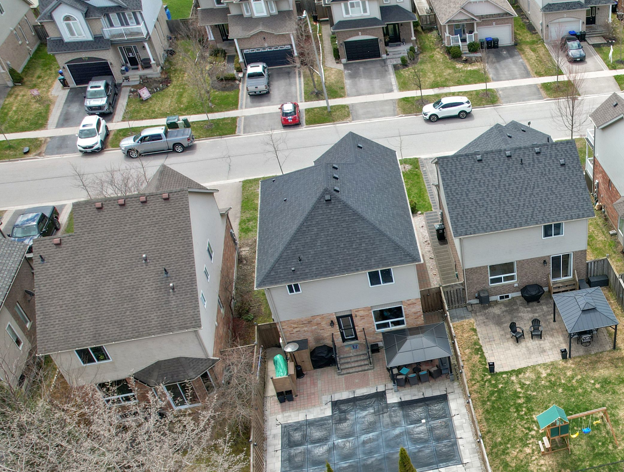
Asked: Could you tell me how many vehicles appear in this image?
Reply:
8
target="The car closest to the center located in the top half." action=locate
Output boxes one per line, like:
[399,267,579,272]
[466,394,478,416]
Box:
[276,98,302,123]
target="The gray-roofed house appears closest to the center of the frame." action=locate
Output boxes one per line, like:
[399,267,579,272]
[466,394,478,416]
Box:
[253,131,426,373]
